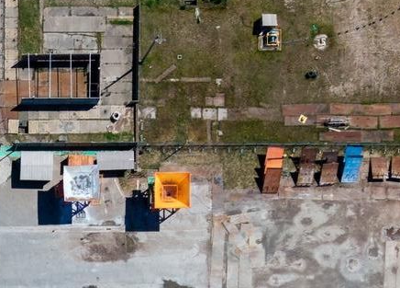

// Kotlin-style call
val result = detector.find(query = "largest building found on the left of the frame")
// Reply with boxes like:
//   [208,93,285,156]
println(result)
[24,53,100,102]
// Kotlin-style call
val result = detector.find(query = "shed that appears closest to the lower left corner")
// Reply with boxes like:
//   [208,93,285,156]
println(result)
[18,151,53,182]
